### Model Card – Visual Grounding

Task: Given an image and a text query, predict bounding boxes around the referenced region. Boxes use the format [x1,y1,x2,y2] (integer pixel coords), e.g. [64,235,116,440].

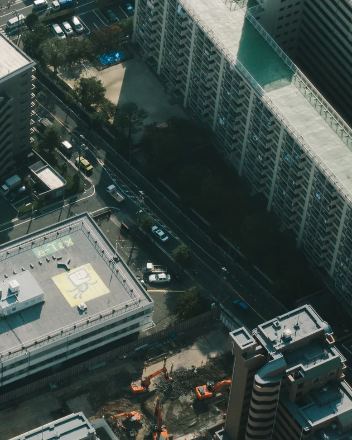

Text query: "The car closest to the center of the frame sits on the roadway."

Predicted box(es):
[151,223,170,241]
